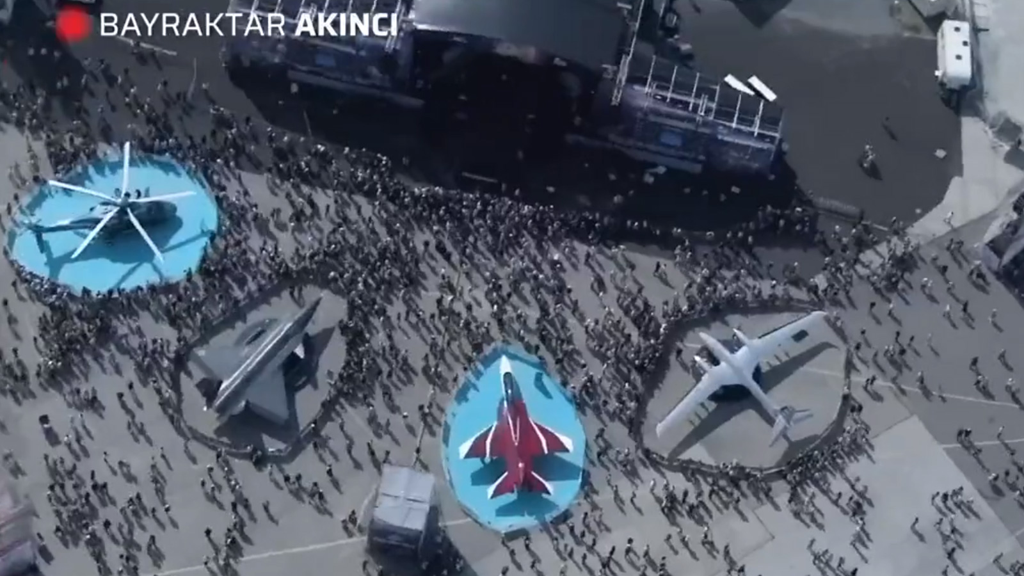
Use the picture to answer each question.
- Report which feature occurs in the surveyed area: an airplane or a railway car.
airplane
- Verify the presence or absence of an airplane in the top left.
No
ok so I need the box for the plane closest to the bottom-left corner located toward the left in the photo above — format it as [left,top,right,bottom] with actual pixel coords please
[189,297,322,426]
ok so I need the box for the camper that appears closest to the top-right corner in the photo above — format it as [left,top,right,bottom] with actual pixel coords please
[929,21,970,109]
